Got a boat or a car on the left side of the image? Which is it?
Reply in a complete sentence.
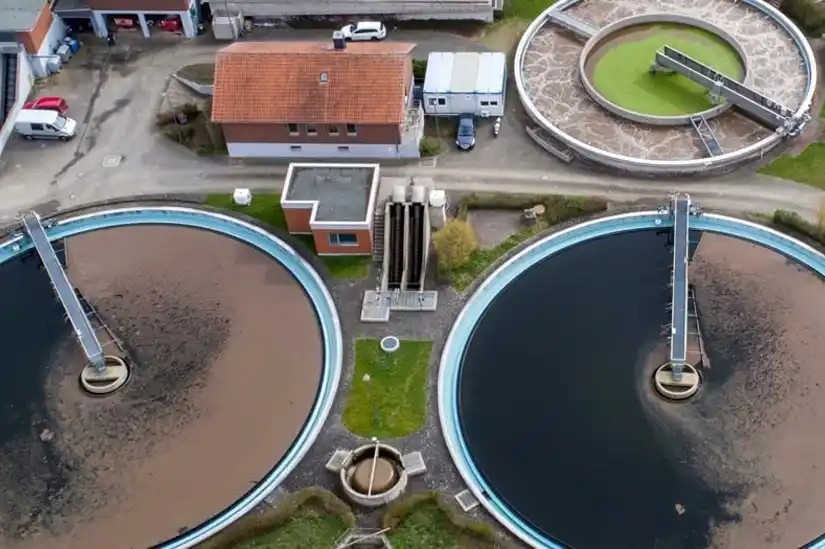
The feature located on the left side of the image is a car.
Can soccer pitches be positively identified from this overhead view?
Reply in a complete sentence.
No, I can't see a single soccer pitch in this photo.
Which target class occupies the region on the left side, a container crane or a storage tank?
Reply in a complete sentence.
Looking on the left side, you will find a storage tank.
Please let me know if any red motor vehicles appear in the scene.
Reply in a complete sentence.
Yes, there is a red motor vehicle in the image.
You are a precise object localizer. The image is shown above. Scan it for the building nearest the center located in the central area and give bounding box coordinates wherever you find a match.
[371,178,450,289]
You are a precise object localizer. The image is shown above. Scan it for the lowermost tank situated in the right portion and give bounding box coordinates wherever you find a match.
[437,210,825,549]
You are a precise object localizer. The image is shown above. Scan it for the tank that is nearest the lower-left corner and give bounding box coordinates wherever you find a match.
[0,206,343,549]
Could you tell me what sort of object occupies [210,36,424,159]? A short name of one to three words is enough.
house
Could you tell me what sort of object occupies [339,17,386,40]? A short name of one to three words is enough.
car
